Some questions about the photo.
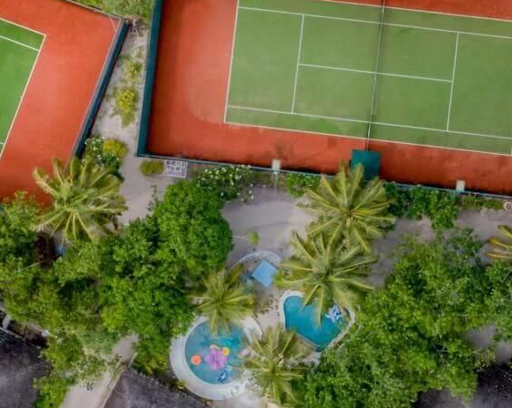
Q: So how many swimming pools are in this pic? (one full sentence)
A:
My tally gives 2 swimming pools in this view.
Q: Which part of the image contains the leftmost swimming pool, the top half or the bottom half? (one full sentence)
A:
You can find the leftmost swimming pool in the bottom half.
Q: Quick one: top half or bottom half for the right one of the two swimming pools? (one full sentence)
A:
It is in the bottom half that the right one of the two swimming pools appears.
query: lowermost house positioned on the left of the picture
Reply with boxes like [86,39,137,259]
[106,367,207,408]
